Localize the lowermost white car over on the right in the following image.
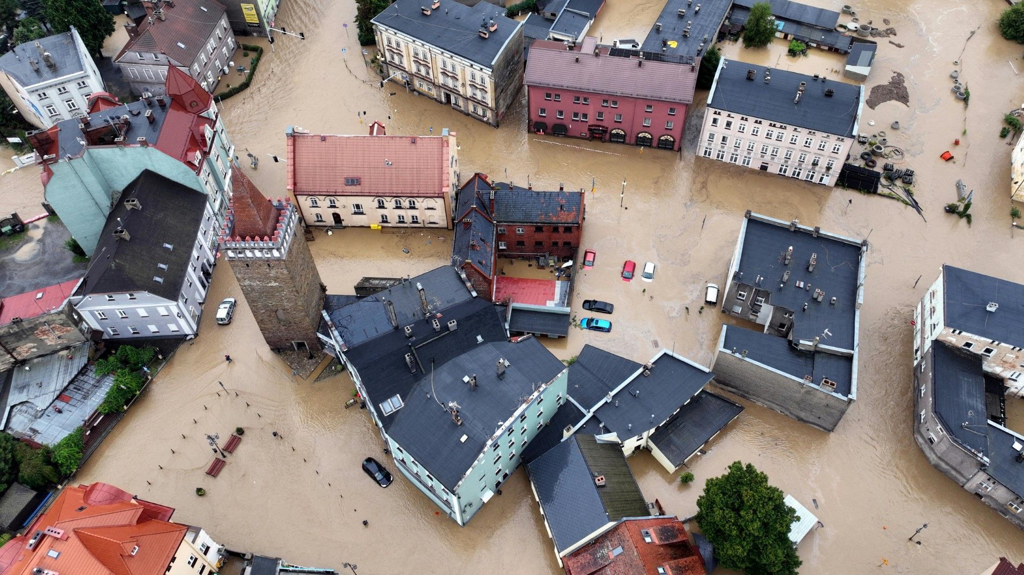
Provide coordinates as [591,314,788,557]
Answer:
[705,283,720,306]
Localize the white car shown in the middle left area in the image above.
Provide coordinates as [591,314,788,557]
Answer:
[214,296,236,324]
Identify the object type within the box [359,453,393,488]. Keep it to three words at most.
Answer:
car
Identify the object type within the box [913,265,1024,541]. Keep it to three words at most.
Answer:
building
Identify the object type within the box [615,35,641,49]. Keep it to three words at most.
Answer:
vehicle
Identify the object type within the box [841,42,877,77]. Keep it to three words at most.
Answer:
shed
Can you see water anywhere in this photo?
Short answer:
Yes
